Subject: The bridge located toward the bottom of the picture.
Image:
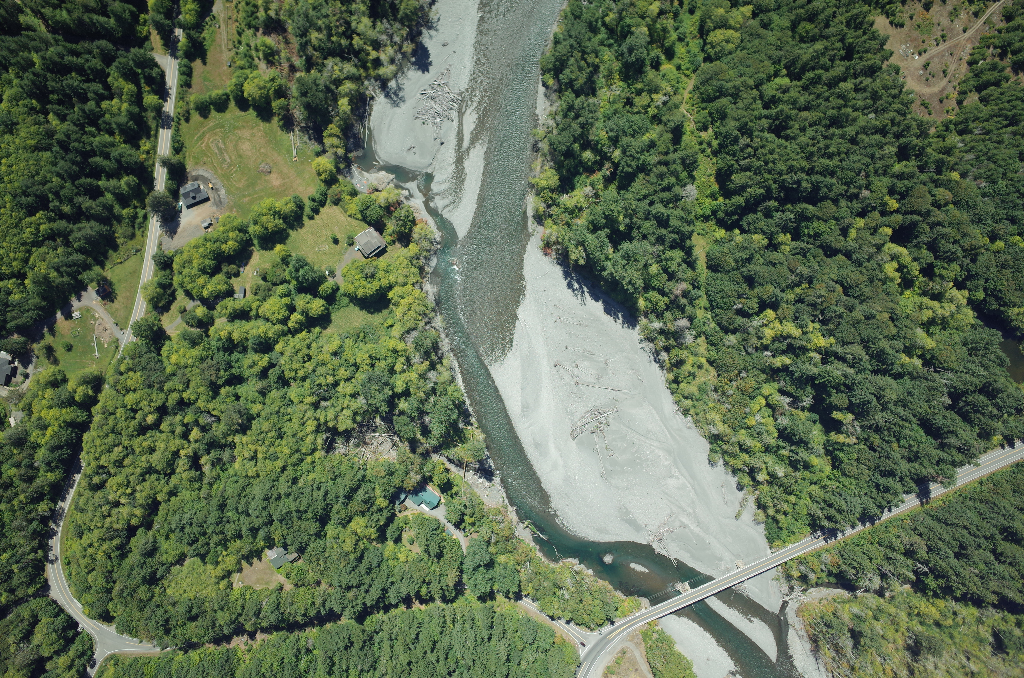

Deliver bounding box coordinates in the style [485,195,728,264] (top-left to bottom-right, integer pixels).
[647,550,781,624]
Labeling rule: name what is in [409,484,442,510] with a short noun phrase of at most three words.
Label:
house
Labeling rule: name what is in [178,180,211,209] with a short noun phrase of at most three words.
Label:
house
